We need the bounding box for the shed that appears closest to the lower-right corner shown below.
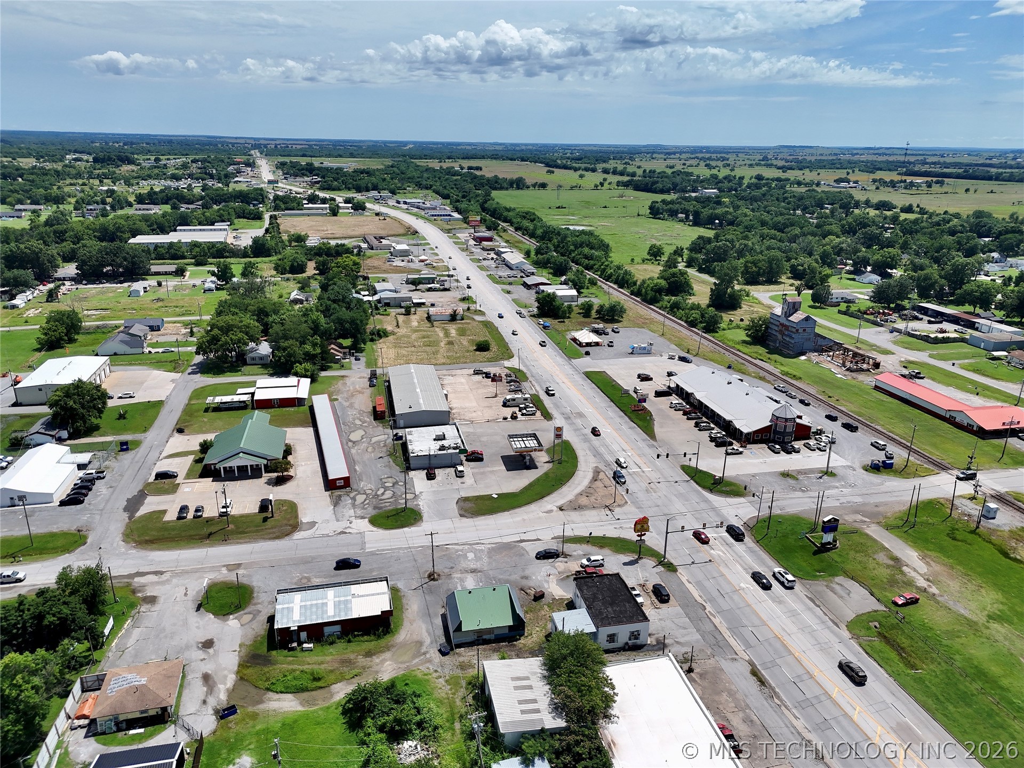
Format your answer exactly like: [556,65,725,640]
[979,503,1005,522]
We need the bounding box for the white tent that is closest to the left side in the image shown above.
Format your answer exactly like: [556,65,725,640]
[574,328,603,347]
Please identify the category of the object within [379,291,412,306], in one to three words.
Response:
building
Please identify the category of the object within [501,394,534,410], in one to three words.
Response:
camper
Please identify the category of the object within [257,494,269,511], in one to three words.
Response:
vehicle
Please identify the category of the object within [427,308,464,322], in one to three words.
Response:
shed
